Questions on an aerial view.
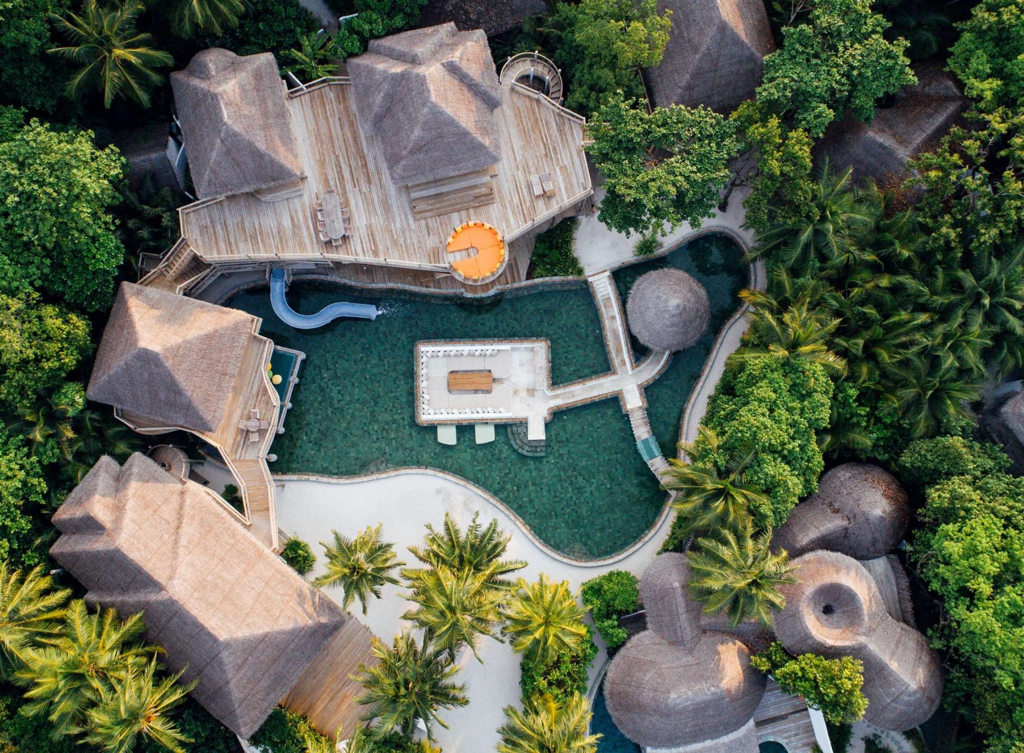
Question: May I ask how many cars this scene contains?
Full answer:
Not a single car can be seen.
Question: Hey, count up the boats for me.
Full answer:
The photo contains no boats.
